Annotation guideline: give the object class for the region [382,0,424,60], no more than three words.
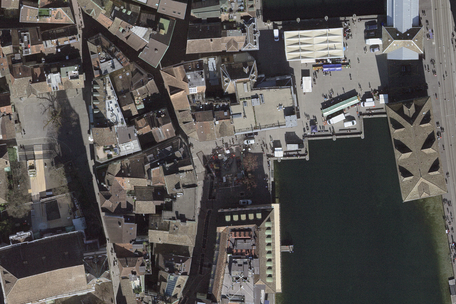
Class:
building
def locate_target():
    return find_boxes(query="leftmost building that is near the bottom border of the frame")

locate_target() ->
[0,228,88,304]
